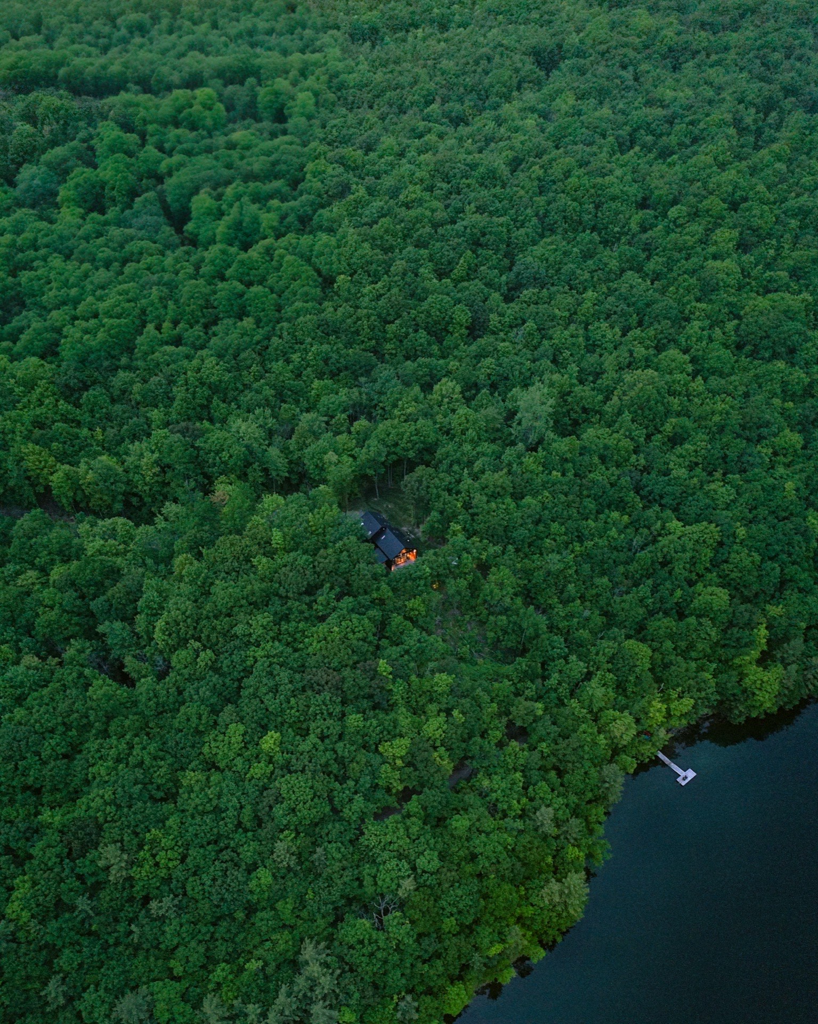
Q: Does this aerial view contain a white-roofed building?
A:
No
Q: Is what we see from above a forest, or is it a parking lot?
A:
forest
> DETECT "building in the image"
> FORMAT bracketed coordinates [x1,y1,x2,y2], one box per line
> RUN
[360,511,418,571]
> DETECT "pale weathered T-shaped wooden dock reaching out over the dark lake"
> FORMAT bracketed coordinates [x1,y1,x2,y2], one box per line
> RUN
[652,745,696,786]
